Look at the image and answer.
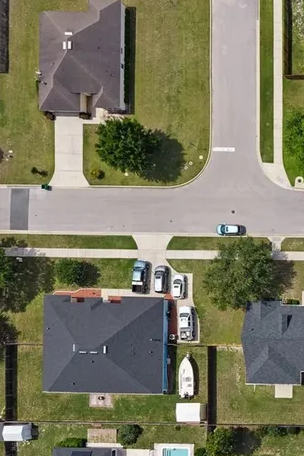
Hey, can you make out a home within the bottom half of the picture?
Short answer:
Yes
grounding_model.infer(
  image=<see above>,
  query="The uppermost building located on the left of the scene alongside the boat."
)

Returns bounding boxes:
[43,295,169,394]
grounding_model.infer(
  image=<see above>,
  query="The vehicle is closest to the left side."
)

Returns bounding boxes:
[131,258,148,292]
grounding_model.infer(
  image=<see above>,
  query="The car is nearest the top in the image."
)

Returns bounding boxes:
[217,223,246,235]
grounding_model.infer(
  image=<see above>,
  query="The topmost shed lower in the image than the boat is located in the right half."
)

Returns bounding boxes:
[176,402,207,422]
